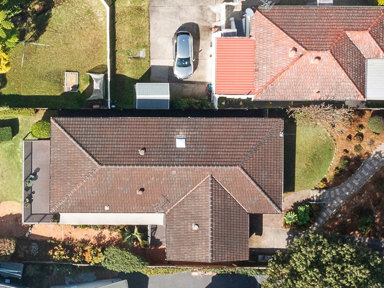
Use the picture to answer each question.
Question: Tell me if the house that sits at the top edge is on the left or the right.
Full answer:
The house that sits at the top edge is on the right side of the image.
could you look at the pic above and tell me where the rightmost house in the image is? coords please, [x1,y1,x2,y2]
[215,6,384,102]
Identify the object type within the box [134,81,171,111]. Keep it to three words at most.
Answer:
shed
